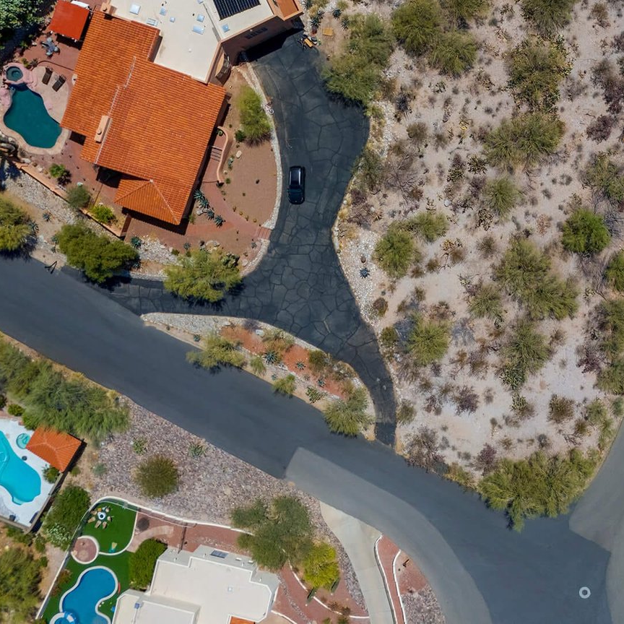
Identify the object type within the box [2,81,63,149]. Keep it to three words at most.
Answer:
swimming pool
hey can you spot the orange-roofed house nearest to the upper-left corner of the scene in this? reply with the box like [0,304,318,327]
[61,0,310,225]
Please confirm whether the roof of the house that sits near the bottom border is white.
Yes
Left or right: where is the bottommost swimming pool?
left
